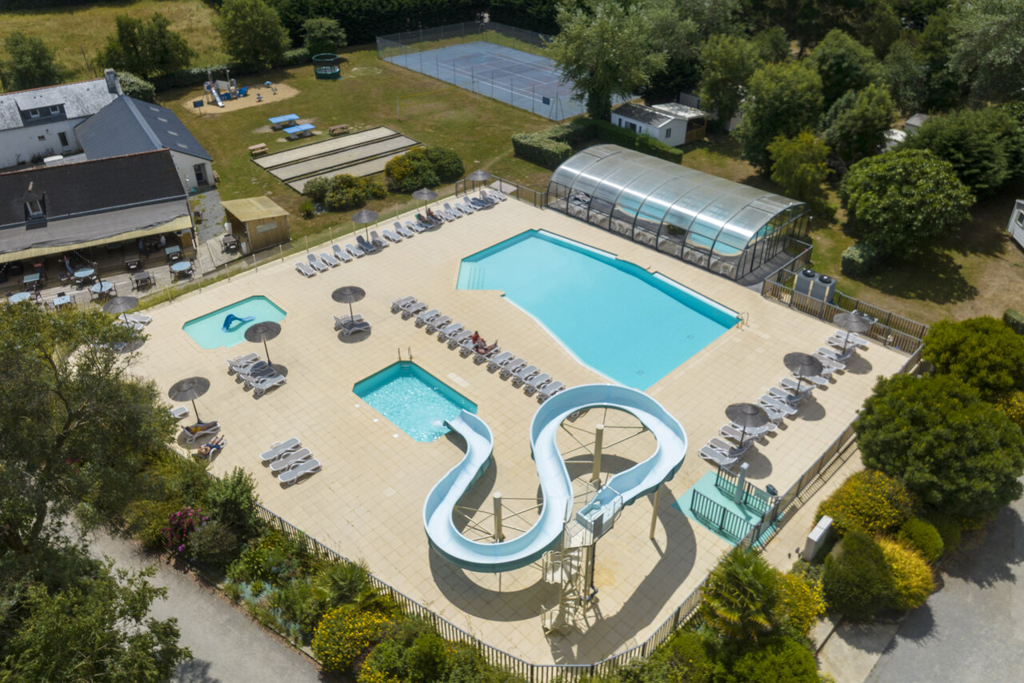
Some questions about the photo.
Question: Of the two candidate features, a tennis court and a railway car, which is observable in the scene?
tennis court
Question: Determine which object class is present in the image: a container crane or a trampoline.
trampoline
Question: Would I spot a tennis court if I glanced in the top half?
Yes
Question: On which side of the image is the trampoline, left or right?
left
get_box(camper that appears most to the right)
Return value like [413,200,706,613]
[989,203,1024,245]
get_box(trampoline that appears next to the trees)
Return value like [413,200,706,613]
[309,49,340,78]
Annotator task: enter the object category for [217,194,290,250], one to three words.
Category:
shed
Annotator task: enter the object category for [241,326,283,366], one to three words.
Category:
umbrella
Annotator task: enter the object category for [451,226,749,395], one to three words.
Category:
swimming pool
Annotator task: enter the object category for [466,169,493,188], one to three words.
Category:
umbrella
